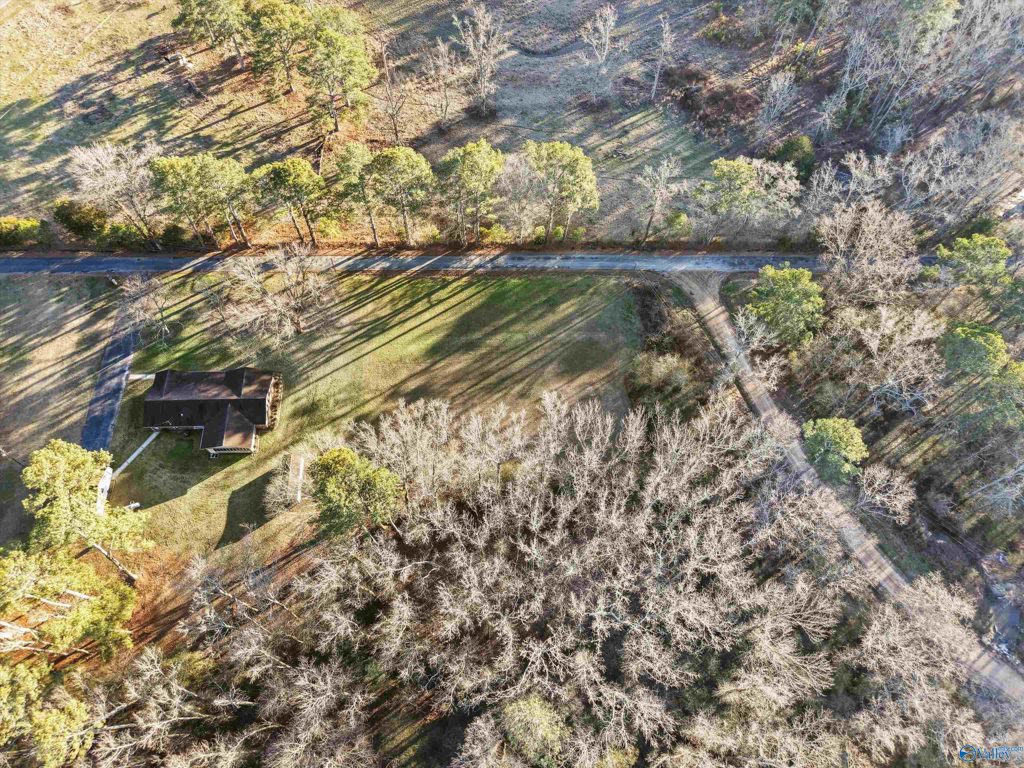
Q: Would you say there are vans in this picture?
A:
No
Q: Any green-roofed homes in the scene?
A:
No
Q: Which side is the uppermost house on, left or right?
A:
left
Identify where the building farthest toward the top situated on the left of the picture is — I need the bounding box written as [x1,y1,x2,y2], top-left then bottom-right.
[142,363,278,455]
